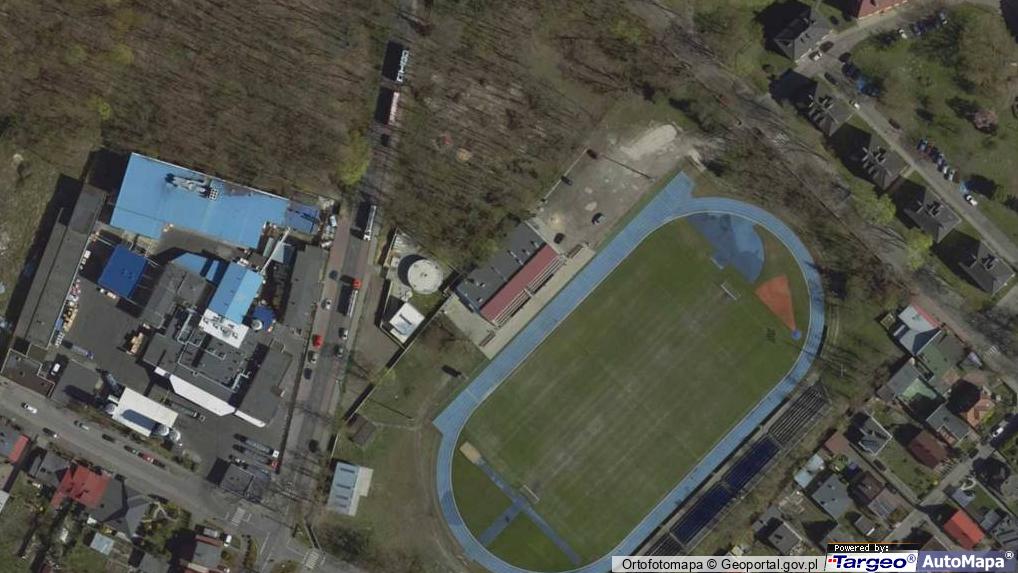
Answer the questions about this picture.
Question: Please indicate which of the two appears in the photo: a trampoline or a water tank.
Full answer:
I can see a water tank in this picture.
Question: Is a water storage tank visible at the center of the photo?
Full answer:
Yes, at the center of the photo there is a water storage tank.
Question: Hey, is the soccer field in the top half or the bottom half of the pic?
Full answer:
The soccer field is in the bottom half of the image.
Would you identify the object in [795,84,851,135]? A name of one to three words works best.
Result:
house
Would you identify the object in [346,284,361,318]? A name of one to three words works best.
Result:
vehicle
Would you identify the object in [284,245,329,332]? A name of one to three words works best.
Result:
building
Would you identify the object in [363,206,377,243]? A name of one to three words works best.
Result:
vehicle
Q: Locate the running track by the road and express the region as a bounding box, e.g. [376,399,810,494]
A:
[430,167,826,573]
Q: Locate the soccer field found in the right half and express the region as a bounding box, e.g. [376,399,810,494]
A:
[453,211,809,573]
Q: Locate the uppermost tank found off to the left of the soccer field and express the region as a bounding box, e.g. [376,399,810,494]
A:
[408,258,443,294]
